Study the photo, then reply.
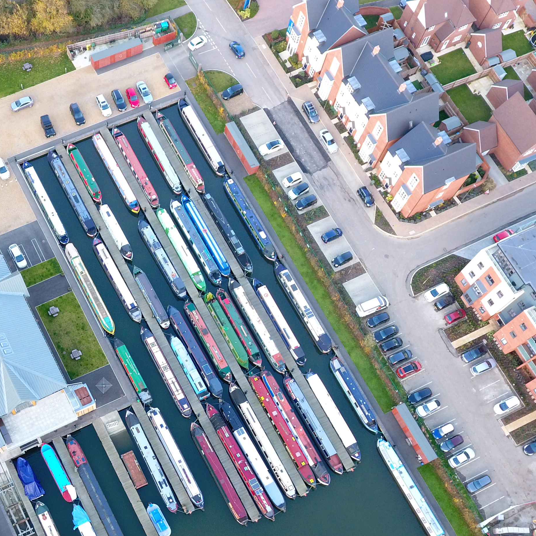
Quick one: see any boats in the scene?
Yes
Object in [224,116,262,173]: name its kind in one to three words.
shed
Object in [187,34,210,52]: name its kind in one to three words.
car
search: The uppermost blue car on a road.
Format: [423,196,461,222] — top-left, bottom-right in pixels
[229,42,246,60]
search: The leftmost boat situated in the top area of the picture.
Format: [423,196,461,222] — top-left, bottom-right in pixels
[24,161,71,246]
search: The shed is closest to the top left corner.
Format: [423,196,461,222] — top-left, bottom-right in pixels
[90,35,145,71]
